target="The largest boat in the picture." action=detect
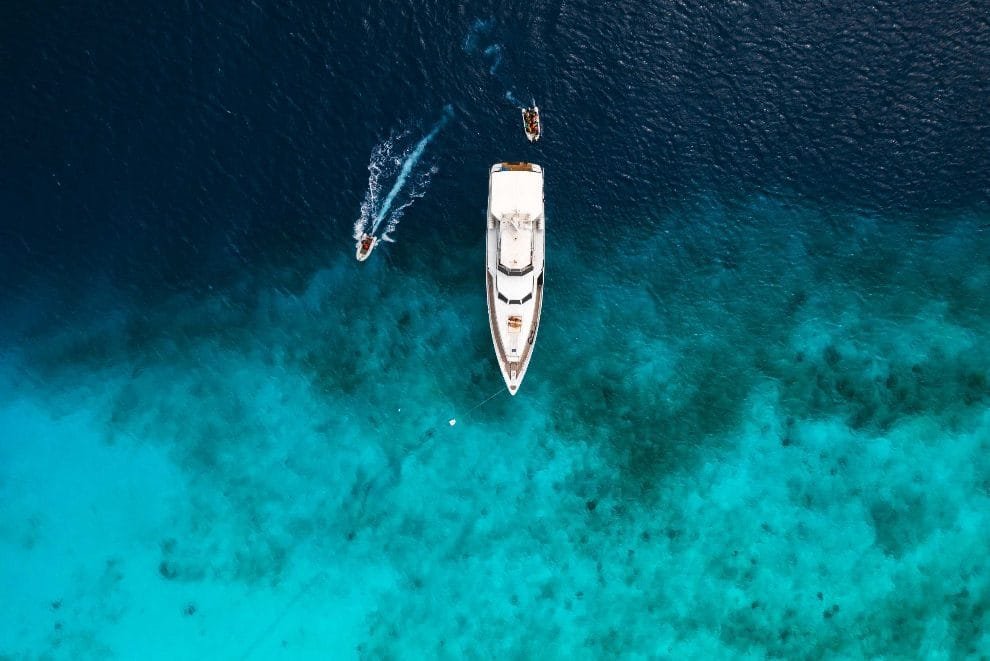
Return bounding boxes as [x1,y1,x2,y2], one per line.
[486,163,546,395]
